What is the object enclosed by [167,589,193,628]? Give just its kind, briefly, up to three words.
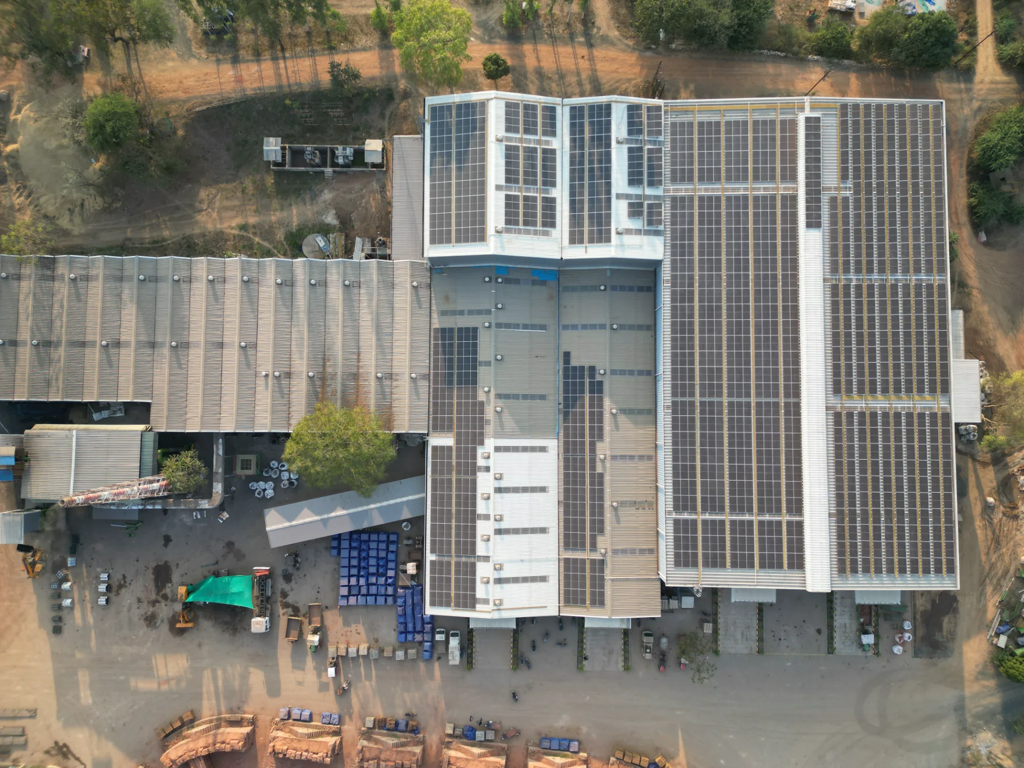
work vehicle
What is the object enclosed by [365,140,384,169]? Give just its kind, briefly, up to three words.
shed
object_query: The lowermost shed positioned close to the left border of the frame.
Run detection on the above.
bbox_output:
[2,509,42,543]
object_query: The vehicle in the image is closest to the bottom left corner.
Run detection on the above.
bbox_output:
[13,543,46,583]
